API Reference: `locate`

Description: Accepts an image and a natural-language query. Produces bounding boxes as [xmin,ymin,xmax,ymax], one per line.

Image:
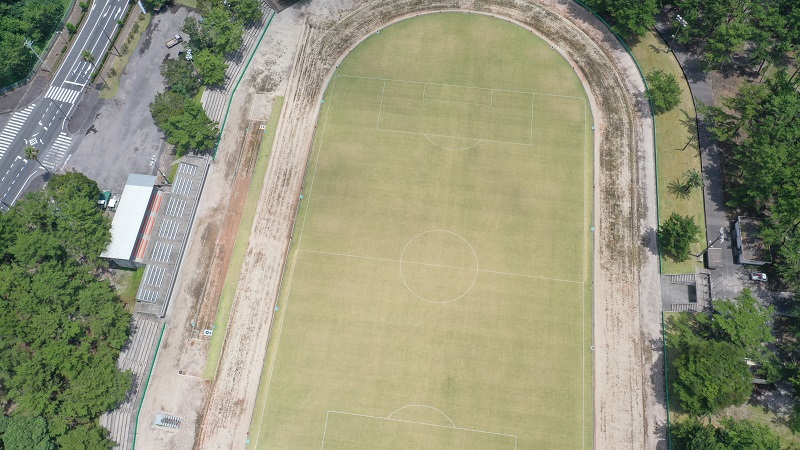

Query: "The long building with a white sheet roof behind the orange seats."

[100,174,160,264]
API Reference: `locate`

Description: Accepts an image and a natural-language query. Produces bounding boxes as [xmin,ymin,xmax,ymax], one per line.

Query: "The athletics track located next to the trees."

[197,0,645,450]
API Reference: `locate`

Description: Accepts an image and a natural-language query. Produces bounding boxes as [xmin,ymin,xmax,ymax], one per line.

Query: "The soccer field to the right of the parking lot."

[246,13,593,450]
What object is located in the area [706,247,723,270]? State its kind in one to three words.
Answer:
shed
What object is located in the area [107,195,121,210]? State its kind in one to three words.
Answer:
vehicle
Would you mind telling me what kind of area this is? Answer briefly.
sports ground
